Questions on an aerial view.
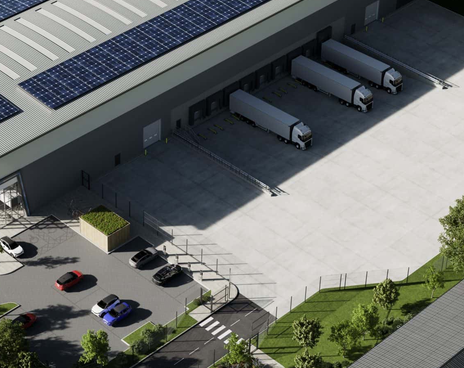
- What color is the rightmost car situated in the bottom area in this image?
black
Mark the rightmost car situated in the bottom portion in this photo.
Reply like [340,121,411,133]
[153,265,183,285]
